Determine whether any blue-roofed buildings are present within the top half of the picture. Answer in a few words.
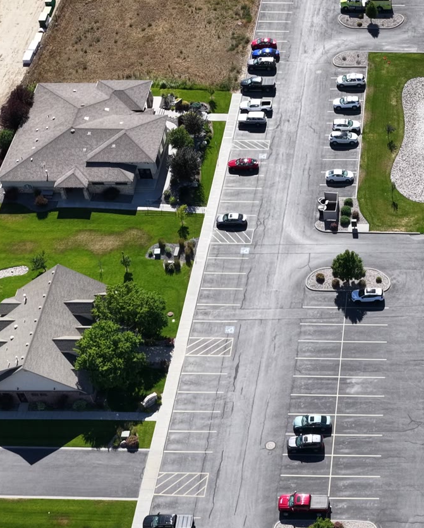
No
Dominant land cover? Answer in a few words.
paved ground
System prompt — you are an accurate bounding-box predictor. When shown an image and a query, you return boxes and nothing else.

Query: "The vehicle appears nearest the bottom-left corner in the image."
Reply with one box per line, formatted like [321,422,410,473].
[141,506,198,528]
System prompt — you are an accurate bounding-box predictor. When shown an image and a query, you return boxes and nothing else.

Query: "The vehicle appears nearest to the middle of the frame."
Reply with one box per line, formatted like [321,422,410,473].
[216,211,250,226]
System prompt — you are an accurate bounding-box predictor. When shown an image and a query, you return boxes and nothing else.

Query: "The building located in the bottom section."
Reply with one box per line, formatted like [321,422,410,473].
[0,263,108,411]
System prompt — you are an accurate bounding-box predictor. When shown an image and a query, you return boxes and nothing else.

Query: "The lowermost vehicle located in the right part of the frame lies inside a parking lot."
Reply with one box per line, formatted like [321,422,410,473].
[278,491,332,515]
